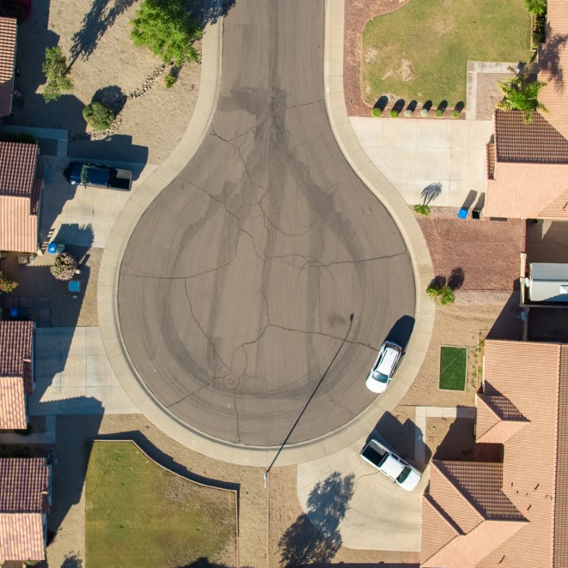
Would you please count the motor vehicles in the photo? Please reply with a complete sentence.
The count of motor vehicles comes to 3.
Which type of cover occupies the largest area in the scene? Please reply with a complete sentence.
What you mostly see from above here is paved ground.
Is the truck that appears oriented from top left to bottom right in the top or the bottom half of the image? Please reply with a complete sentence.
Seen from above, the truck that appears oriented from top left to bottom right lies in the bottom half of the view.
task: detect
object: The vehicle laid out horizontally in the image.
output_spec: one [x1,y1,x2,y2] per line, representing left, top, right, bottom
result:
[70,163,135,191]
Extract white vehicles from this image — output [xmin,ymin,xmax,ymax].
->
[368,341,404,393]
[361,439,422,492]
